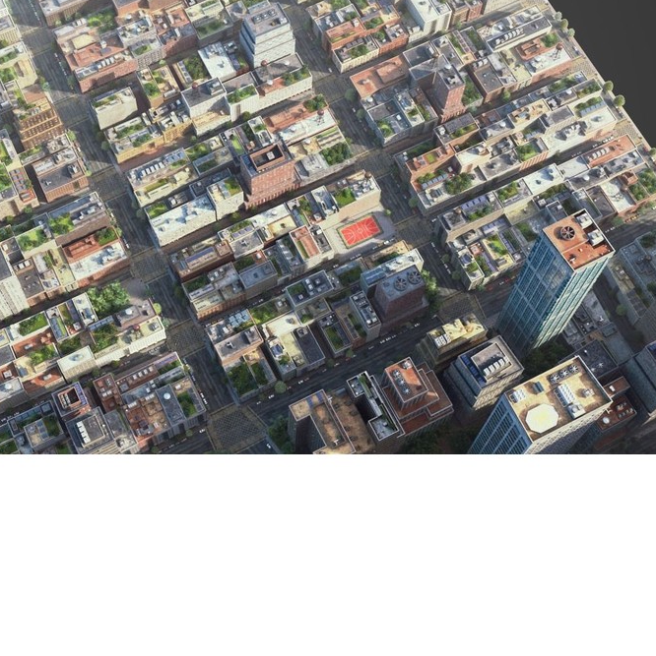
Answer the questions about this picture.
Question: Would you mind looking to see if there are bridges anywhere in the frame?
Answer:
No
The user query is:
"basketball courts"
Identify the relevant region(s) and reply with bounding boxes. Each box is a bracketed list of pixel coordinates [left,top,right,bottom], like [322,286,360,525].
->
[337,214,382,248]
